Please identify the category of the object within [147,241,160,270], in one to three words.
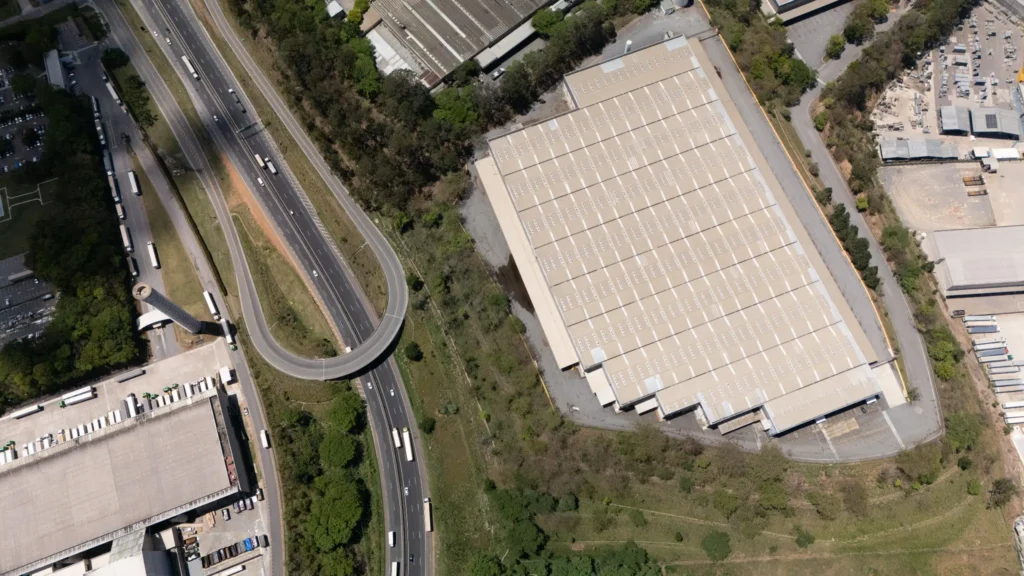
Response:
vehicle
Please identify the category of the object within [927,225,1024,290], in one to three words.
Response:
building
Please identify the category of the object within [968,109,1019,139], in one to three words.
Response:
shed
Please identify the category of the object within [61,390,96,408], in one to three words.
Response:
vehicle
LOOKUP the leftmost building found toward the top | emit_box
[45,50,69,92]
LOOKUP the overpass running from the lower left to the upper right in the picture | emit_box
[326,293,405,381]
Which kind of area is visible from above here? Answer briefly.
industrial area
